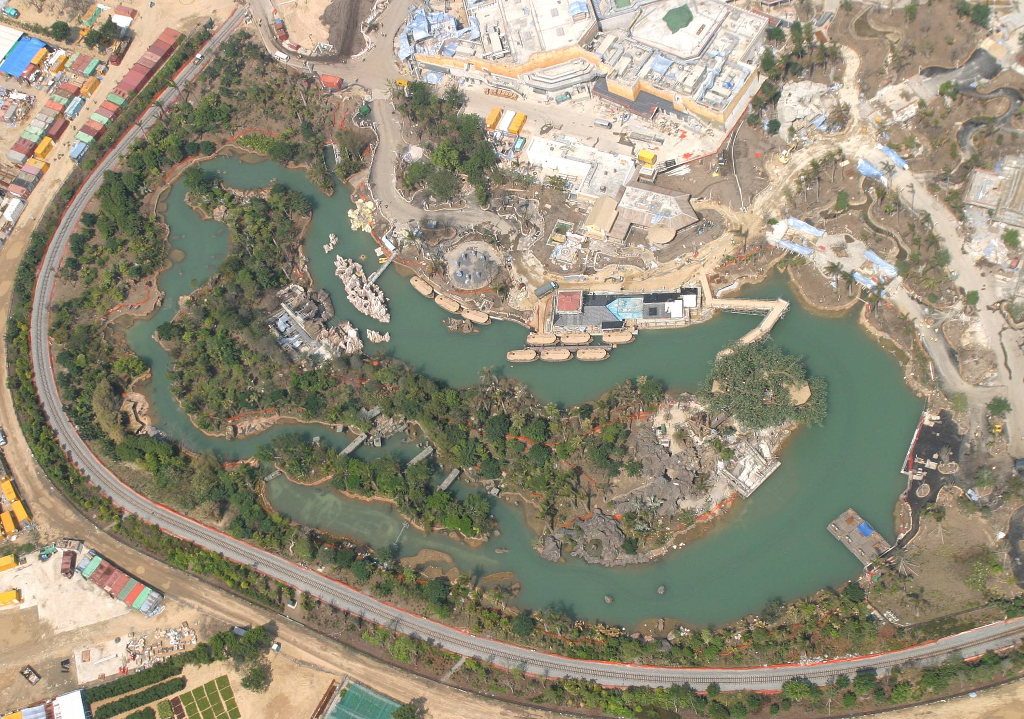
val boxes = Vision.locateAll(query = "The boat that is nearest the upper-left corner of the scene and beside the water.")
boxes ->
[409,278,437,301]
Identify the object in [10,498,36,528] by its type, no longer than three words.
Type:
building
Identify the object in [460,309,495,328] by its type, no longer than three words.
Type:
boat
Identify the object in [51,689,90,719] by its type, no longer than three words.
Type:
shed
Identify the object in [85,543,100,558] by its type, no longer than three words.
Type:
vehicle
